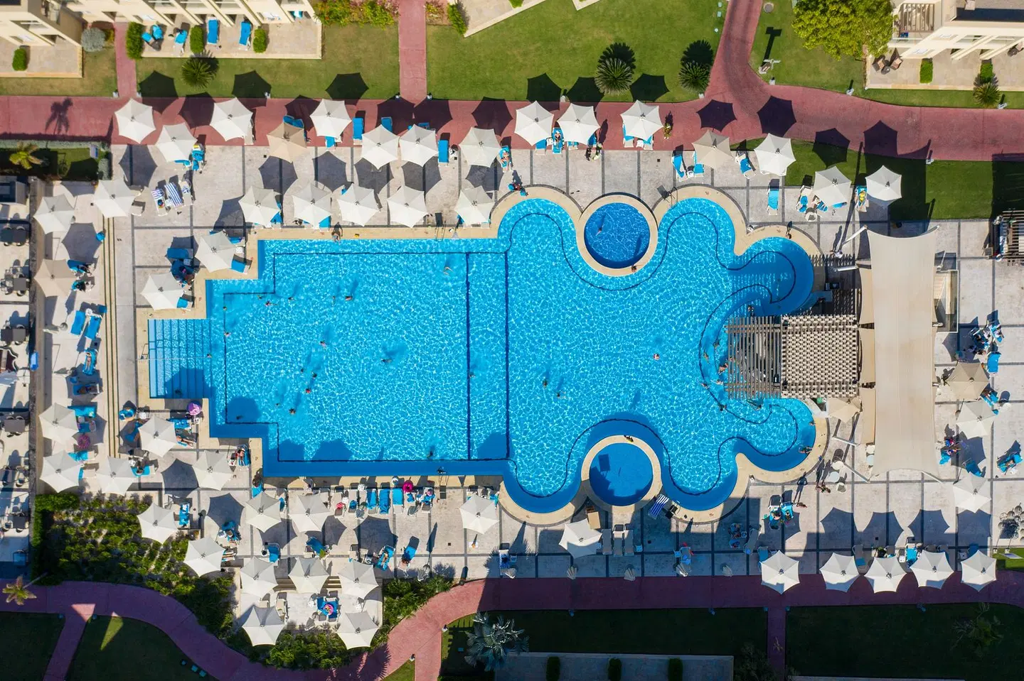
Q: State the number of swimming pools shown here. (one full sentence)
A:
In total, 1 swimming pool can be seen.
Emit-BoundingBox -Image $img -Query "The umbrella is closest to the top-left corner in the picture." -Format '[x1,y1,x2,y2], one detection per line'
[116,101,157,143]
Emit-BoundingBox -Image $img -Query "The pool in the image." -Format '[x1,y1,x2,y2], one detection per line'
[149,198,815,513]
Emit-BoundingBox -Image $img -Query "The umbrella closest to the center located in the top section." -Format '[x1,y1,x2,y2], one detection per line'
[455,186,496,227]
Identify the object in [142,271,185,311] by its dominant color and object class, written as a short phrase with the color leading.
white umbrella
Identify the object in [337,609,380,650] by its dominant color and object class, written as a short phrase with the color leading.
white umbrella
